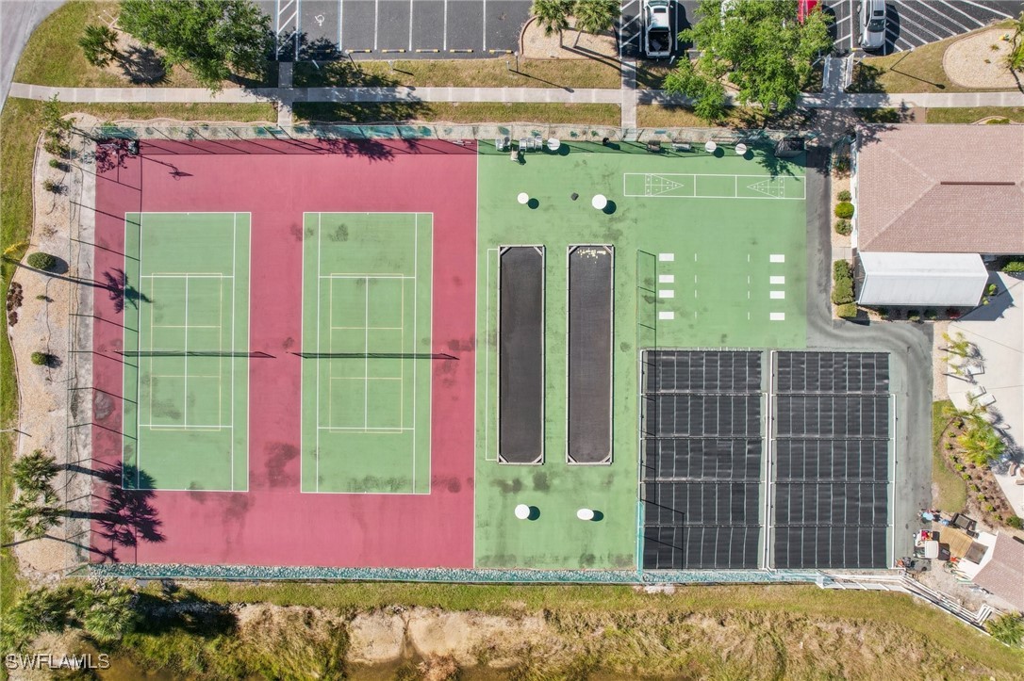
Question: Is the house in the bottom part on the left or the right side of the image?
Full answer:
The house in the bottom part appears in the right half of the scene.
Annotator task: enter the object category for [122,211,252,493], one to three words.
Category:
tennis court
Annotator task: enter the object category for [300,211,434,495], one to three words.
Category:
tennis court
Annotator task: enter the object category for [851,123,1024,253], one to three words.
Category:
building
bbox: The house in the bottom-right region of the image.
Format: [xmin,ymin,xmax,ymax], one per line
[973,531,1024,605]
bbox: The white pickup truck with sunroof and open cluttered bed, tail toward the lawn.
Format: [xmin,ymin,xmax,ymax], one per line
[642,0,672,59]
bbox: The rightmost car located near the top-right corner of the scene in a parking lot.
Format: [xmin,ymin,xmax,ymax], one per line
[859,0,889,51]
